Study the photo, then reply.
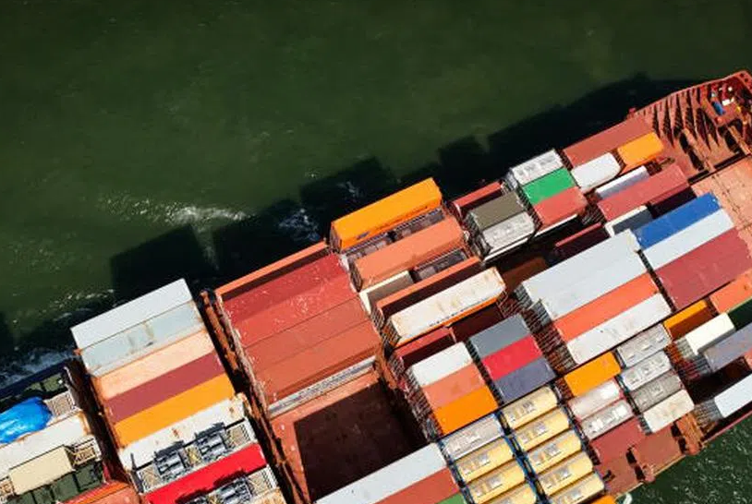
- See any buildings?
No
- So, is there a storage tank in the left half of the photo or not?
No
